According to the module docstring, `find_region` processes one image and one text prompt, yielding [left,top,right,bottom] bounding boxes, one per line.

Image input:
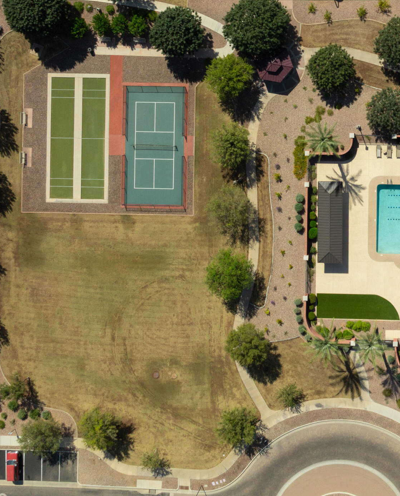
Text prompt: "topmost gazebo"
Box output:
[254,44,305,96]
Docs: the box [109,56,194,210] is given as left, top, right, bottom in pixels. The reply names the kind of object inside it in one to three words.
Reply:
sports court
